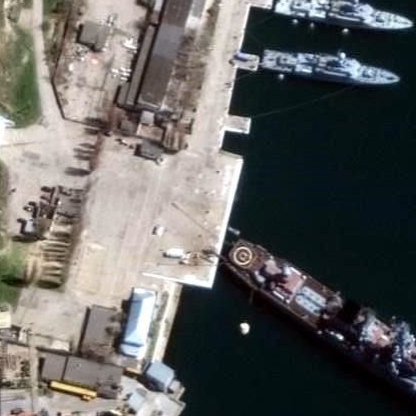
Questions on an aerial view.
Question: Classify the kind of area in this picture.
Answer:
port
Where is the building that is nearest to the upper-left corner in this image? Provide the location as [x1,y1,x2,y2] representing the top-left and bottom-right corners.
[80,23,110,53]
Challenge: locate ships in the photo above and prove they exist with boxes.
[224,239,416,394]
[273,0,413,29]
[260,51,400,84]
